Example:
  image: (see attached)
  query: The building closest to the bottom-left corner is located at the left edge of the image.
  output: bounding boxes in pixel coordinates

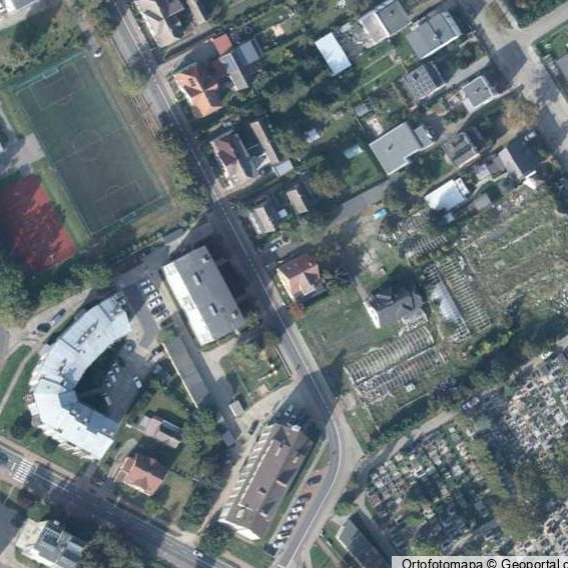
[16,518,86,568]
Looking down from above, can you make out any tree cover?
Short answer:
Yes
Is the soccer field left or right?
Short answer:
left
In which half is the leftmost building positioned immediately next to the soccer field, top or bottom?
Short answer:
bottom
